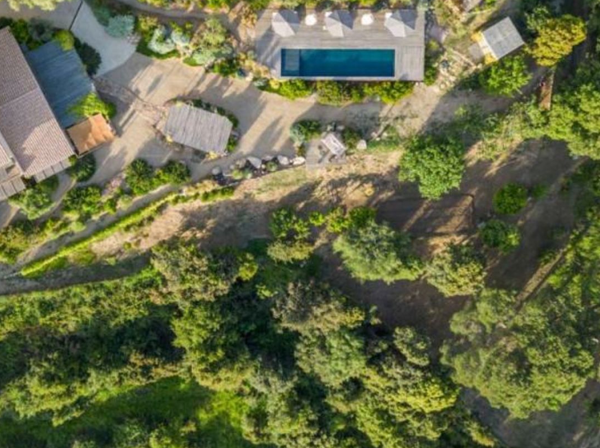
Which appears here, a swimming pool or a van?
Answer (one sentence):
The image shows a swimming pool.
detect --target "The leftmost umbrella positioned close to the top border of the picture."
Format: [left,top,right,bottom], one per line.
[271,8,302,38]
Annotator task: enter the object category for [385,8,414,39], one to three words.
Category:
umbrella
